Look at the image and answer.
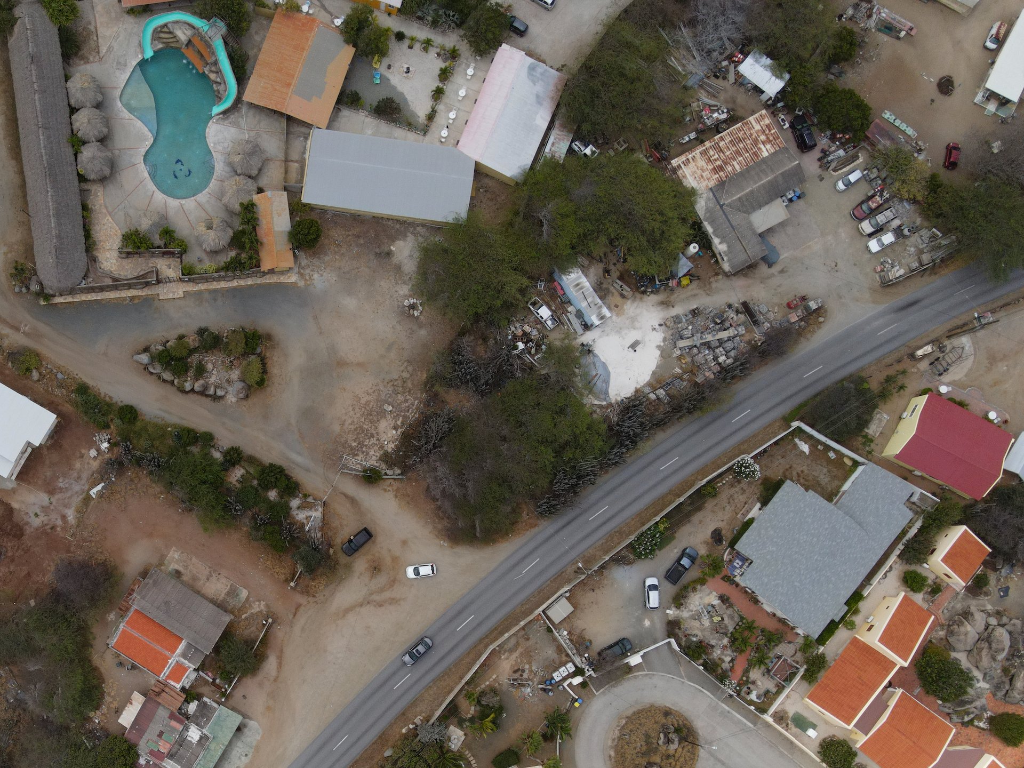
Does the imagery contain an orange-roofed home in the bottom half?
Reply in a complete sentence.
Yes, an orange-roofed home is visible in the bottom half.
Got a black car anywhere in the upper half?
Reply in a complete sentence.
Yes, in the upper half there is a black car.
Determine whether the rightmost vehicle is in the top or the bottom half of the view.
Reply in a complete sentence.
You can find the rightmost vehicle in the top half.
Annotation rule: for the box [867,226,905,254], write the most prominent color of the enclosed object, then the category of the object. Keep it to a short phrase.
white truck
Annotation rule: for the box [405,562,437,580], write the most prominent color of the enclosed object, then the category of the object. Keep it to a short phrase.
white car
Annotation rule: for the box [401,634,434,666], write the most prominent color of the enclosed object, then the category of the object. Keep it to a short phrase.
gray car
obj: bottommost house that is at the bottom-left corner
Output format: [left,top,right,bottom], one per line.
[118,680,246,768]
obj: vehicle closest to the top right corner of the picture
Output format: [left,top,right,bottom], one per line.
[982,18,1009,52]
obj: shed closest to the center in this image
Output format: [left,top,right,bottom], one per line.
[553,268,611,330]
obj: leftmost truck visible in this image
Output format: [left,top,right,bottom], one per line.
[339,525,376,555]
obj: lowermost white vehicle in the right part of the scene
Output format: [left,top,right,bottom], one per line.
[642,575,660,610]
